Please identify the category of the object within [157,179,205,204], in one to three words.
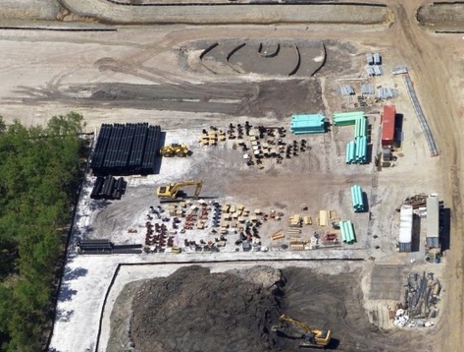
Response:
work vehicle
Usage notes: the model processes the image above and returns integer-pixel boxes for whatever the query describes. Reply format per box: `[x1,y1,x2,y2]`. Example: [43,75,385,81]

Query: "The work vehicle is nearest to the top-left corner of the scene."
[156,137,190,157]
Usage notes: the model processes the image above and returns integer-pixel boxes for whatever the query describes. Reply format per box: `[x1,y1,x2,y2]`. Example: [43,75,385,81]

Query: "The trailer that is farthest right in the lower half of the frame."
[426,190,440,247]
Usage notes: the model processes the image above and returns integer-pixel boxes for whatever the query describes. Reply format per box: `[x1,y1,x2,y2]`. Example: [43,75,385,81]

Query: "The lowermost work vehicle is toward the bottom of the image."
[269,316,331,348]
